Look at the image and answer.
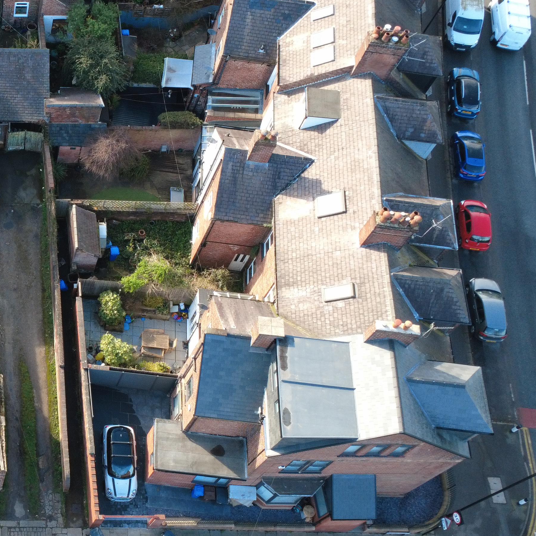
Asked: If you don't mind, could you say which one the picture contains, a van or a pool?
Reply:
van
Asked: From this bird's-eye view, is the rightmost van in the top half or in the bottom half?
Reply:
top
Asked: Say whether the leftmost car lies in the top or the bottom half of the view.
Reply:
bottom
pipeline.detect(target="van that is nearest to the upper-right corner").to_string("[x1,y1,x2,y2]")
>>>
[490,2,536,51]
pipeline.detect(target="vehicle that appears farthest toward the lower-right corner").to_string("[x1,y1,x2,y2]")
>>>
[466,279,510,349]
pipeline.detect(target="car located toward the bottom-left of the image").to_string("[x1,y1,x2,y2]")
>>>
[102,426,142,502]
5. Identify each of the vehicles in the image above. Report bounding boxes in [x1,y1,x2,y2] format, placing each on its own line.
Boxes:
[447,73,483,119]
[102,426,142,502]
[466,279,510,349]
[454,199,494,257]
[490,2,536,51]
[449,131,488,186]
[447,0,492,49]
